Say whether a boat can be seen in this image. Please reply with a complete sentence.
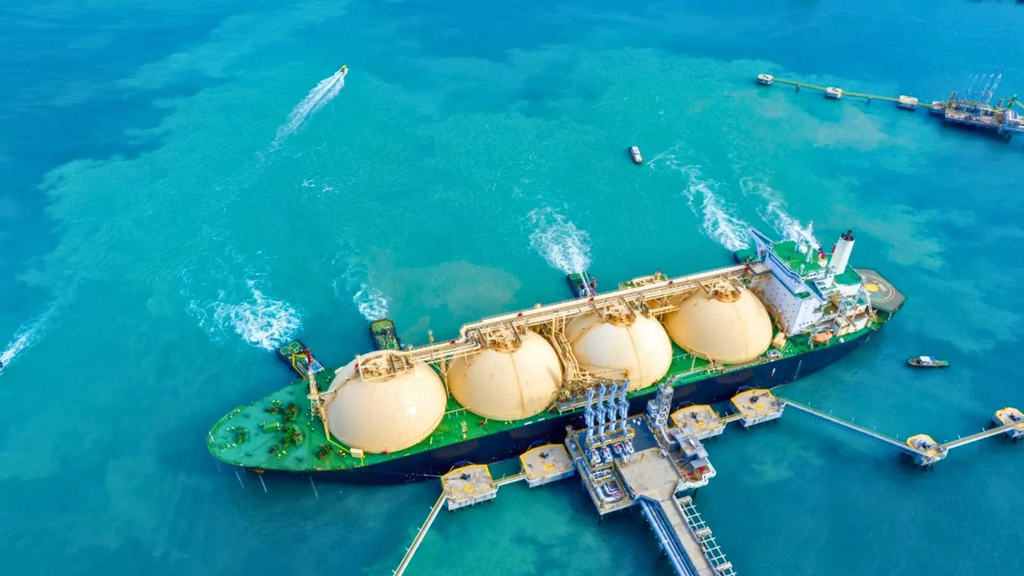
Yes, the image includes a boat.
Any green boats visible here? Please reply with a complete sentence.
Yes, a green boat can be made out from above.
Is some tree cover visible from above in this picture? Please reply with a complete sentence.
No, the picture contains no tree cover.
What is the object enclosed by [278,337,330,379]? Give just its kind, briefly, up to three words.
boat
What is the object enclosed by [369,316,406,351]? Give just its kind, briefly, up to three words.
boat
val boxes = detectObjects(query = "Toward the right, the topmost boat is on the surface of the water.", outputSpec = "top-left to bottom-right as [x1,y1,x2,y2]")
[628,143,642,162]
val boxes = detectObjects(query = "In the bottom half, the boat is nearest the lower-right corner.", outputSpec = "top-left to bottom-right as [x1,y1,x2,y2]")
[908,354,953,368]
